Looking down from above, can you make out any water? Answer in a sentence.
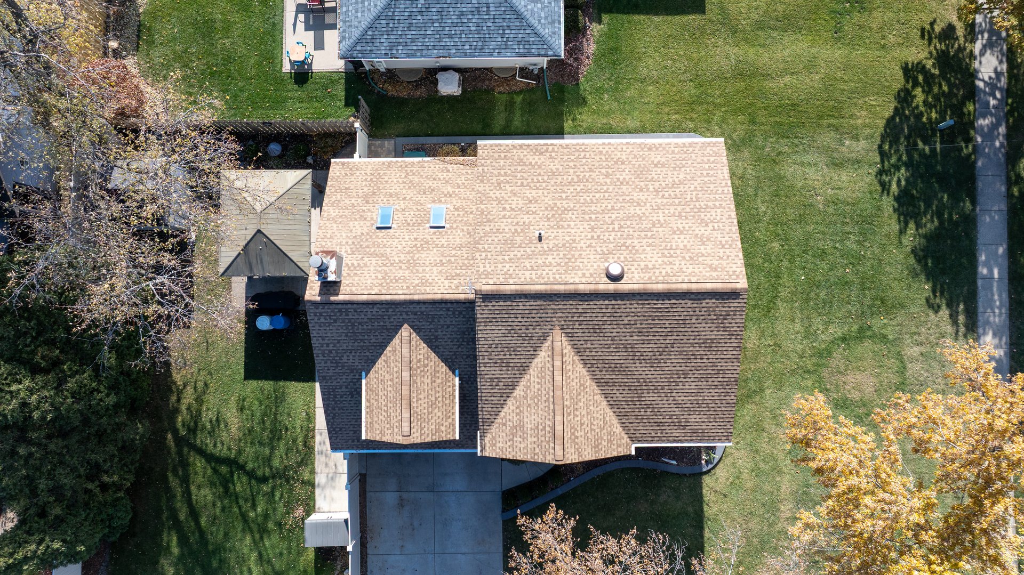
No, no water is visible.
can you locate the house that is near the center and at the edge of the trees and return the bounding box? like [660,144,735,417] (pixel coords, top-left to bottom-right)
[305,136,748,465]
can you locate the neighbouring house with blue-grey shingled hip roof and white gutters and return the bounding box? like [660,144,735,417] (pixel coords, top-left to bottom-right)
[335,0,565,99]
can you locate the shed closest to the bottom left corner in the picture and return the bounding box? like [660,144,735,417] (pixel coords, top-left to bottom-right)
[304,512,348,547]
